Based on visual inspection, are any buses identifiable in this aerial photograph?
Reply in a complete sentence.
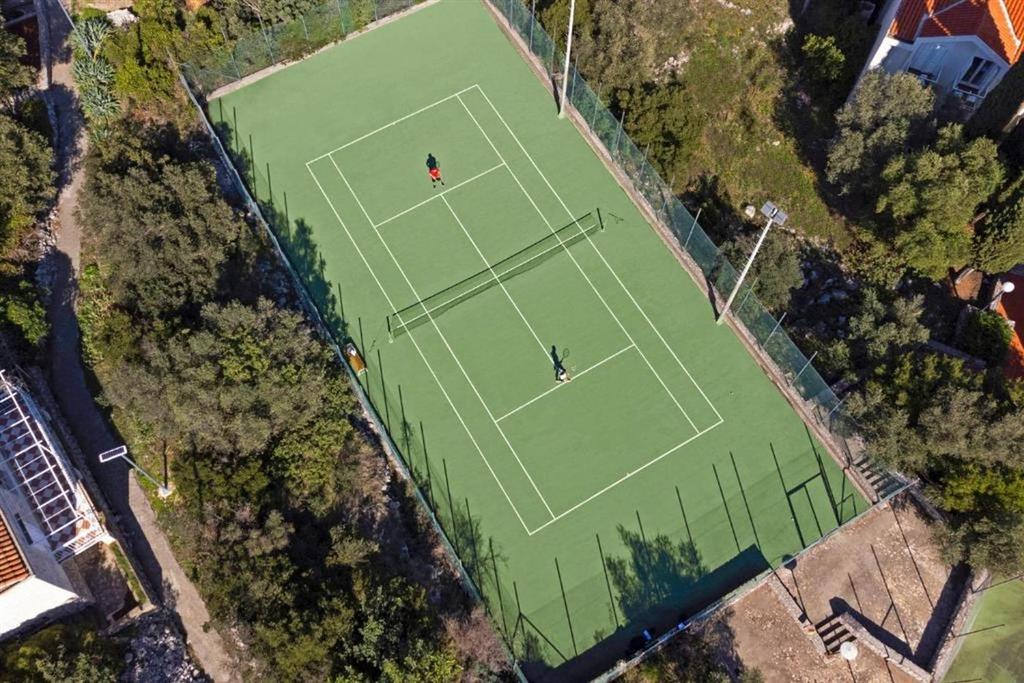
No, no bus can be seen from above.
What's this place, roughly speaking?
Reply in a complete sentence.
The picture captures a sports ground.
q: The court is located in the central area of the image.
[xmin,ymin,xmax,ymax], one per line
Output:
[198,0,870,683]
